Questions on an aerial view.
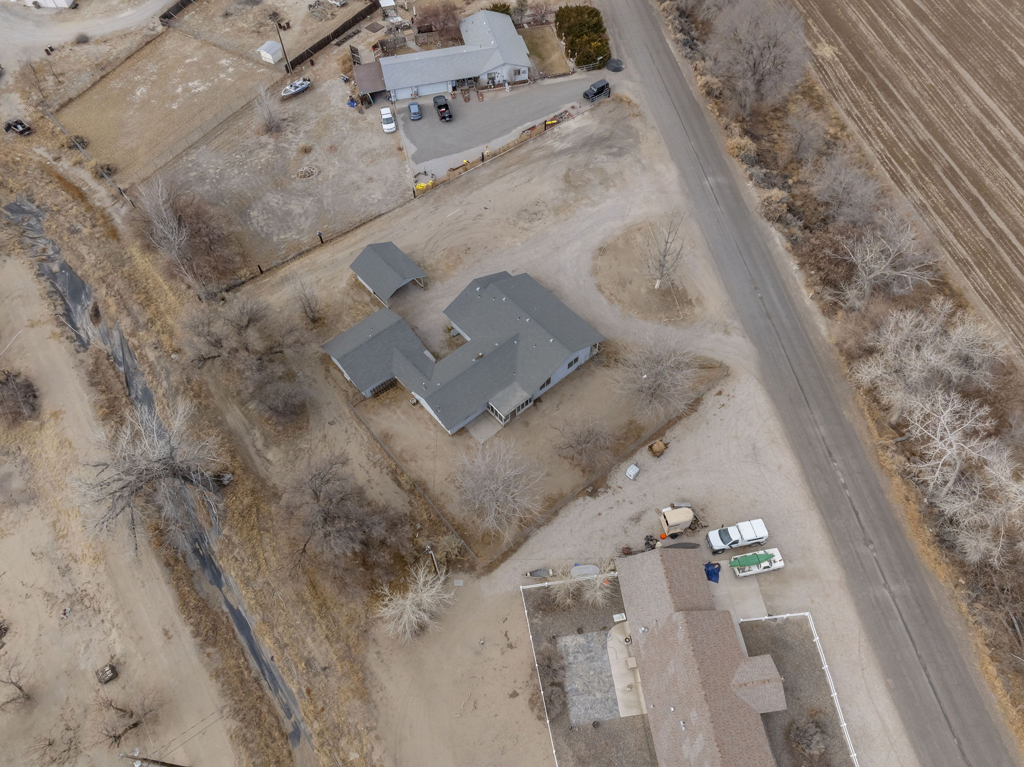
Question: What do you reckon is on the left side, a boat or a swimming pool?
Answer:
boat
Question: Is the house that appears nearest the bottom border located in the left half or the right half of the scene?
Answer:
right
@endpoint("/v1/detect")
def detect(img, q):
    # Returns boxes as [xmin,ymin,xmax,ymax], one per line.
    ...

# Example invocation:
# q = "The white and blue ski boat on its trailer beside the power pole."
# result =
[274,78,316,102]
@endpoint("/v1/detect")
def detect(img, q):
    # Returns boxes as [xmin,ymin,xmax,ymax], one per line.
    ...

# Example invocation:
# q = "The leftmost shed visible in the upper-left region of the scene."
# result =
[256,42,284,67]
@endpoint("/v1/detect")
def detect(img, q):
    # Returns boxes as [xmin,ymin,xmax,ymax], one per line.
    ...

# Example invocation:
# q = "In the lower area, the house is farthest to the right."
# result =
[610,545,779,767]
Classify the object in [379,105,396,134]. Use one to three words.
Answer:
car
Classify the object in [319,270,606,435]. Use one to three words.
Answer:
house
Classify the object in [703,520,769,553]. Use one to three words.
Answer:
truck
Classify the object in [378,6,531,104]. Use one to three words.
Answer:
house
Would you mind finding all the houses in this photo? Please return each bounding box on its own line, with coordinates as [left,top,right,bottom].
[319,270,606,435]
[610,545,779,767]
[378,6,531,104]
